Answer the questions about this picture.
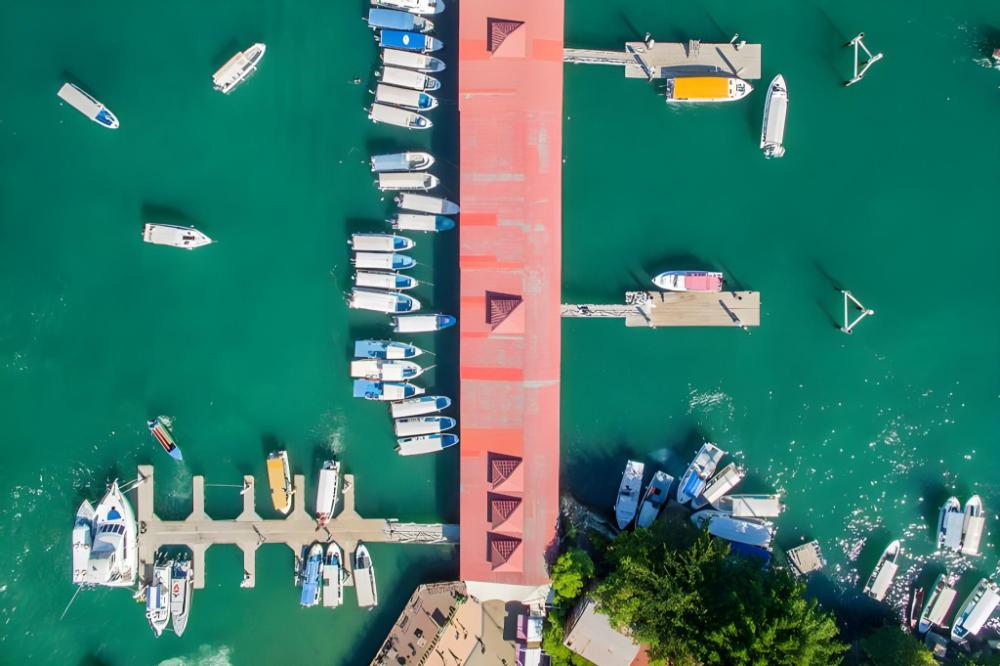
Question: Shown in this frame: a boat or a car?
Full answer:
Of the two, only a boat appears.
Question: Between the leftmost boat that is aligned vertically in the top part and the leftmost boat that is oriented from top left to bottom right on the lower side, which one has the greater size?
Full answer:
The leftmost boat that is aligned vertically in the top part is larger than the leftmost boat that is oriented from top left to bottom right on the lower side.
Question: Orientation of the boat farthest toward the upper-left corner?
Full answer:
In this picture, the boat farthest toward the upper-left corner is oriented at an angle.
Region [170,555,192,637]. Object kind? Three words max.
boat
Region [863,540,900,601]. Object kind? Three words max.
boat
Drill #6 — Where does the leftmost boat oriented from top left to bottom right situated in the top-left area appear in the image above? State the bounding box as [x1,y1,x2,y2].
[53,80,121,129]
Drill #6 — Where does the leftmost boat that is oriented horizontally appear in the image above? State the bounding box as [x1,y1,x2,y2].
[139,224,215,248]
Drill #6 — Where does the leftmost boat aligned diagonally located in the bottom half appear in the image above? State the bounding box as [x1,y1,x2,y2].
[148,418,184,460]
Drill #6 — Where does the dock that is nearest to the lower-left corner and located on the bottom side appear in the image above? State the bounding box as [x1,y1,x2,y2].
[138,465,387,599]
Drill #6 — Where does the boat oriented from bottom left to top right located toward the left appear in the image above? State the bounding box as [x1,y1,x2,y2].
[213,43,267,94]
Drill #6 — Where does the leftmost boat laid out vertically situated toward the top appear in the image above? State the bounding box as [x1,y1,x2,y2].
[761,73,790,157]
